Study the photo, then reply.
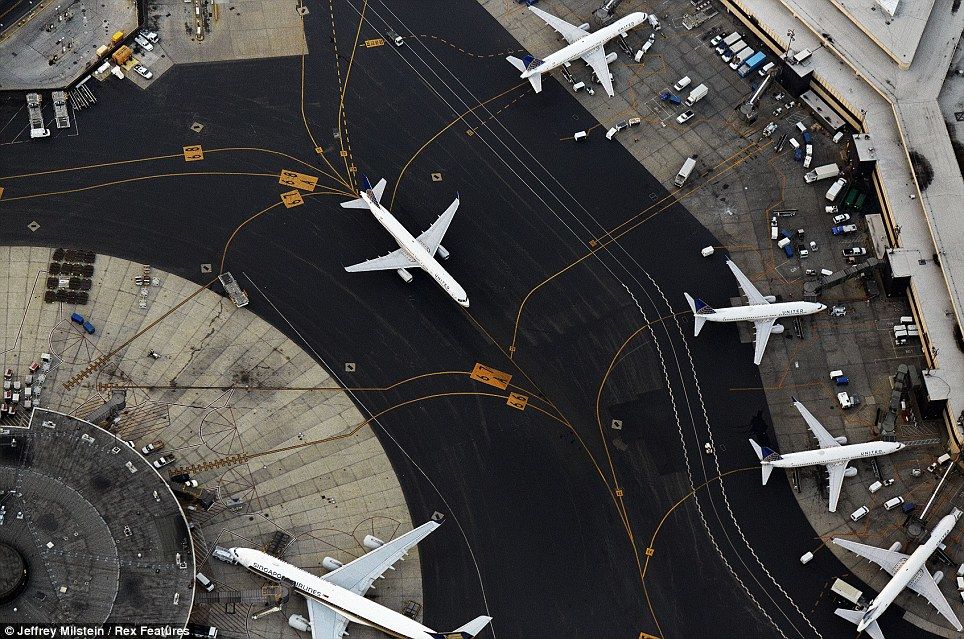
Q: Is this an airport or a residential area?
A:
airport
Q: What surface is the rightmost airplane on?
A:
apron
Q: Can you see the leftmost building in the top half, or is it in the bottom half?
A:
bottom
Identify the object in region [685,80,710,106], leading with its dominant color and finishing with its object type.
white truck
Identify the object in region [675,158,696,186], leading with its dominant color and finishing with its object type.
white vehicle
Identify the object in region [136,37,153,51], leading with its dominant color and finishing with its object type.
white car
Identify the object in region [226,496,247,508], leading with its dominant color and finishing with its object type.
gray vehicle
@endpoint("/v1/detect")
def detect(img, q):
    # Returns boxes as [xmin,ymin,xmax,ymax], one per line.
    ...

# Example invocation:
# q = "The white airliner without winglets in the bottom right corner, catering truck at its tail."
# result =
[832,513,962,639]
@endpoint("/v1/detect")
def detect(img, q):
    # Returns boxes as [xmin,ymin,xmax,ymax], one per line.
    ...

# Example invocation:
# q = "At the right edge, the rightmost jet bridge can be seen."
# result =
[906,455,958,540]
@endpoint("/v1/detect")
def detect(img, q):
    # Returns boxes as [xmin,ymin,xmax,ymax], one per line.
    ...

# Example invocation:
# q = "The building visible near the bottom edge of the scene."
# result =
[0,407,192,639]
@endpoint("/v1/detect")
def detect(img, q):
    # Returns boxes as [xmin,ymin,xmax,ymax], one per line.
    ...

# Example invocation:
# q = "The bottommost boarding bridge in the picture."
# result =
[193,582,291,619]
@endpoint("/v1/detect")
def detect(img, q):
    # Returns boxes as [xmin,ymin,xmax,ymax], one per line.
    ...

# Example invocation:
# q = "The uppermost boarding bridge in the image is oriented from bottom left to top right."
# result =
[587,0,627,32]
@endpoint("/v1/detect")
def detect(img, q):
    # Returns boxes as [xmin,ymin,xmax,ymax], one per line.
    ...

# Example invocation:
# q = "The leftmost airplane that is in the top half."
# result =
[341,174,471,307]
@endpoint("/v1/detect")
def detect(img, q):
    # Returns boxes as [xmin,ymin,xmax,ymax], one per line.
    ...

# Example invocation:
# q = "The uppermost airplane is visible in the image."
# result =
[506,8,648,95]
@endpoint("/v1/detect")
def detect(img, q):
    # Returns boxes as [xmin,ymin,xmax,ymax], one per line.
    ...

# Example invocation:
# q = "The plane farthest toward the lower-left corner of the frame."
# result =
[229,514,489,639]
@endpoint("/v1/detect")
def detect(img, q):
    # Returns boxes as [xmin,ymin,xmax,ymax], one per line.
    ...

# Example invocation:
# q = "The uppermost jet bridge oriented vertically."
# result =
[874,361,910,446]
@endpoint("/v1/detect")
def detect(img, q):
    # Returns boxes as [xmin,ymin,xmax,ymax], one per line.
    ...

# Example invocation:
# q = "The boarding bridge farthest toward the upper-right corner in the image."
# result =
[735,66,785,122]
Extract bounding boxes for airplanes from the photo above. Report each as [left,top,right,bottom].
[229,514,489,639]
[684,254,829,365]
[341,174,471,307]
[506,8,648,95]
[832,513,962,639]
[752,394,902,513]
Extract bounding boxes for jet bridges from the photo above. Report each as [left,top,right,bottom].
[587,0,627,32]
[804,254,887,300]
[193,582,291,619]
[735,66,785,122]
[906,455,958,540]
[176,481,217,521]
[874,361,910,446]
